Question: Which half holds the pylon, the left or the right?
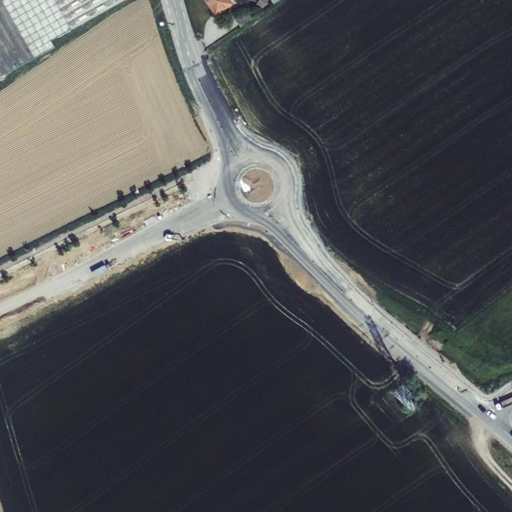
right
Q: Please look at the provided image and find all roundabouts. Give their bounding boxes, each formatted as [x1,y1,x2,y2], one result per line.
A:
[234,162,282,210]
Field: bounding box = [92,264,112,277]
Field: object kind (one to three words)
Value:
vehicle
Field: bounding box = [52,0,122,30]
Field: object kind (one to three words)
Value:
greenhouse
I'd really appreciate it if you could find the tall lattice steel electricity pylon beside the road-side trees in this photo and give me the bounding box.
[394,384,416,414]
